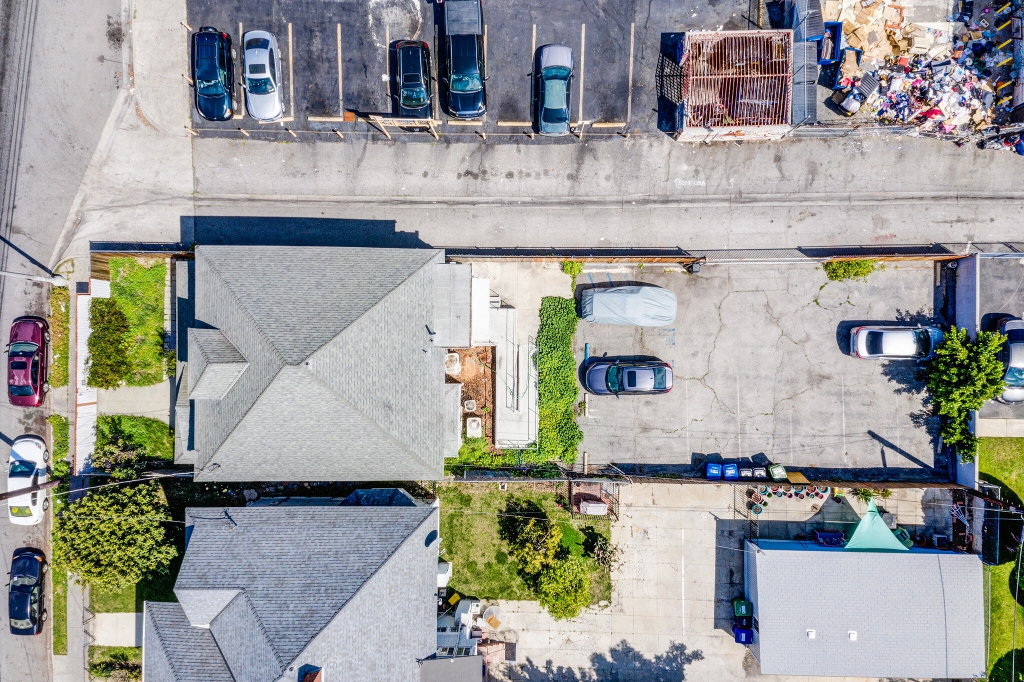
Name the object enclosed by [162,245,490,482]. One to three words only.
house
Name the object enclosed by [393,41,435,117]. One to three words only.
car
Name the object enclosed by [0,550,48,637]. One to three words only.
car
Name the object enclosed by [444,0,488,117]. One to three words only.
truck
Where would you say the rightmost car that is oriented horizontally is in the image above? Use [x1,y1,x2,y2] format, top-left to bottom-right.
[844,323,938,364]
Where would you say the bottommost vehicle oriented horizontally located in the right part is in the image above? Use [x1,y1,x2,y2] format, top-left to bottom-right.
[585,358,675,400]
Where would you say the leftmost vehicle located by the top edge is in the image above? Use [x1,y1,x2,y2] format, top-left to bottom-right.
[188,23,235,120]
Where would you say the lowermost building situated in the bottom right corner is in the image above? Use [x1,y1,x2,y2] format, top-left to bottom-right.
[744,540,987,677]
